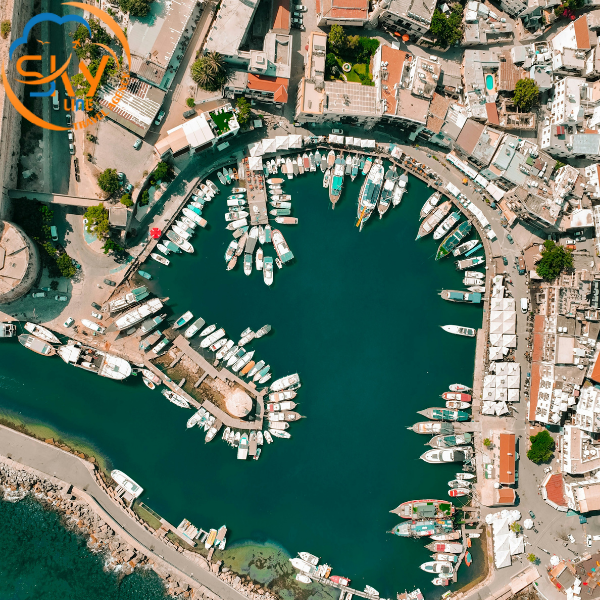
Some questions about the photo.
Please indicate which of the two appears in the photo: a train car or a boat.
boat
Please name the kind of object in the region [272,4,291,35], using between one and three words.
house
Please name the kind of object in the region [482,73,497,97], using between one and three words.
swimming pool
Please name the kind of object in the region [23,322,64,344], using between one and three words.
boat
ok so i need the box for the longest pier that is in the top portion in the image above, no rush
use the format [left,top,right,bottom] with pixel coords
[247,156,268,226]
